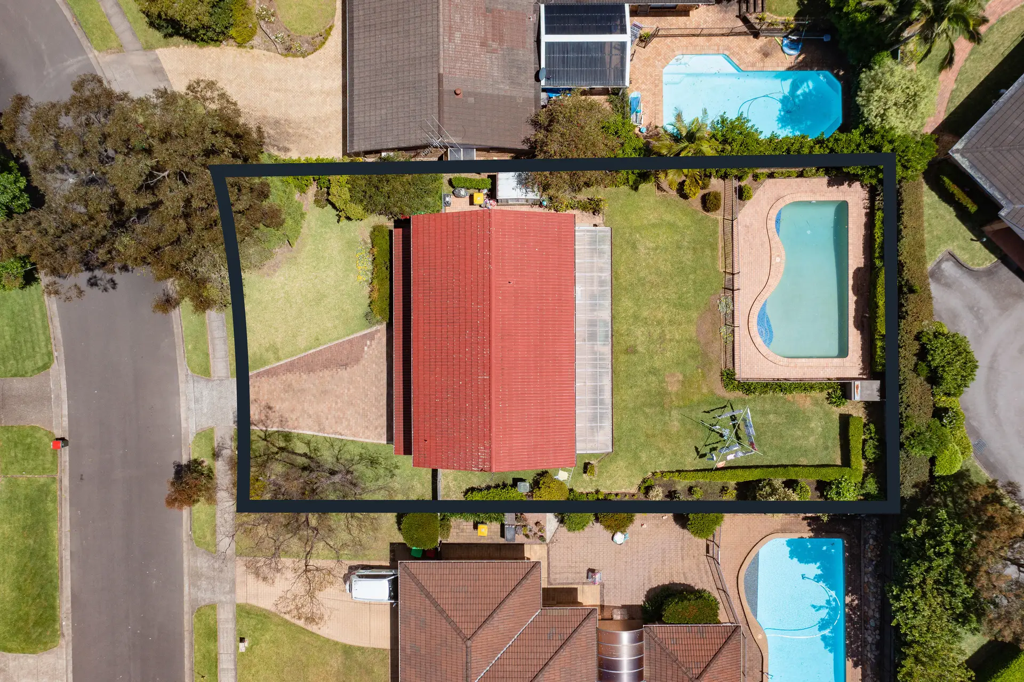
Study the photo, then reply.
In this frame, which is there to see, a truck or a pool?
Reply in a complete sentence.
Of the two, only a pool appears.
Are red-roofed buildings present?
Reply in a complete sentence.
Yes, the picture does show a red-roofed building.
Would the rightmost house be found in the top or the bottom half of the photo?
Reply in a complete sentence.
The rightmost house sits in the top half of the picture.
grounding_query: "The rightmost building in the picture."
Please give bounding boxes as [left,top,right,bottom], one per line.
[940,69,1024,253]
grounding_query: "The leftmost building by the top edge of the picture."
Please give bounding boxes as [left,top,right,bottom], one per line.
[345,0,541,166]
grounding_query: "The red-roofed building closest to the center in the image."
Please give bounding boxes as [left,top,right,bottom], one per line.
[391,208,578,473]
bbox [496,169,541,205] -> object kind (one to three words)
shed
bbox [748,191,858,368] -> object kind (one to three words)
swimming pool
